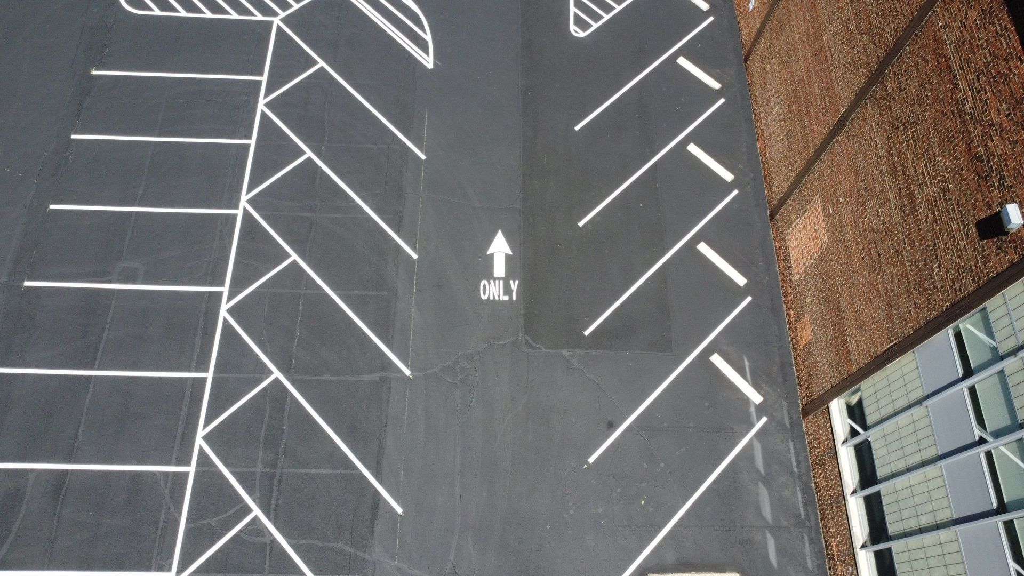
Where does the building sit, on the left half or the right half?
right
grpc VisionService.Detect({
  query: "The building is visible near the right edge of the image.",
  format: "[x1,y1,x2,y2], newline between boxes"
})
[735,0,1024,576]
